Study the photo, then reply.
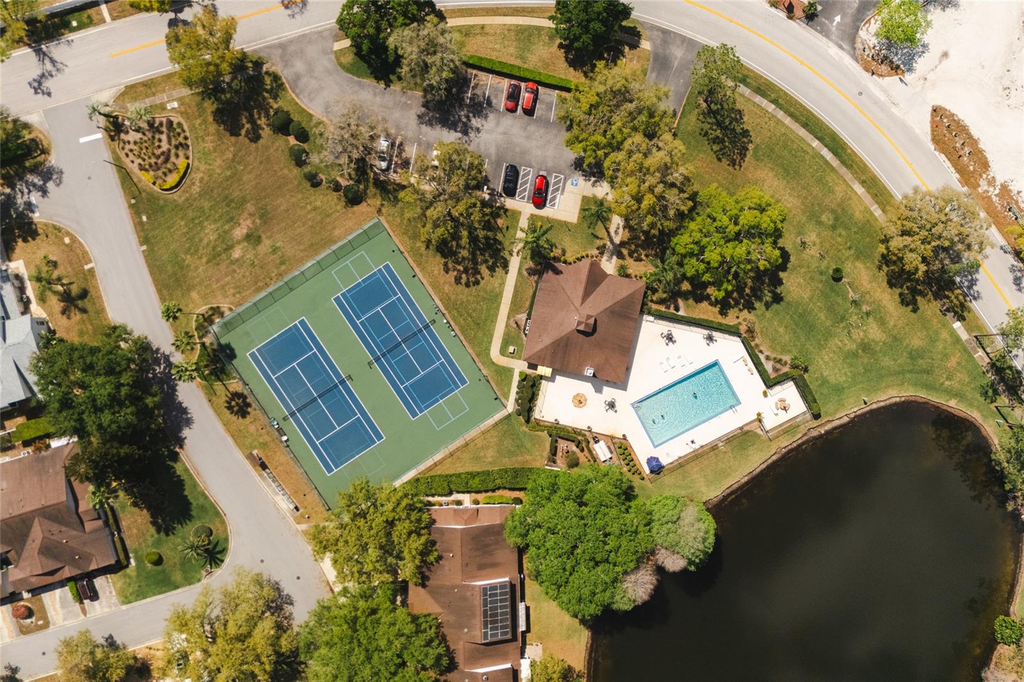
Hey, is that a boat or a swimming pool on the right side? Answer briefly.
swimming pool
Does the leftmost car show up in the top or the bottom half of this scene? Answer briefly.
bottom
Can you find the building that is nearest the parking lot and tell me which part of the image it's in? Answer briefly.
center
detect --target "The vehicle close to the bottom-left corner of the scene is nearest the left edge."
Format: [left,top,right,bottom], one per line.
[78,574,100,605]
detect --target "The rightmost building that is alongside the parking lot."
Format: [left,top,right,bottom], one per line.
[523,259,645,383]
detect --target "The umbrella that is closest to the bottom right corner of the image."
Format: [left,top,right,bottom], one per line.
[648,459,666,476]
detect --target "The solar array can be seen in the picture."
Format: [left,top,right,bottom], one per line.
[482,584,509,641]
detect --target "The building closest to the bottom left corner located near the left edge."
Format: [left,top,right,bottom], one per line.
[0,447,119,596]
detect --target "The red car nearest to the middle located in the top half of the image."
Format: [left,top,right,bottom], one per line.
[533,176,547,207]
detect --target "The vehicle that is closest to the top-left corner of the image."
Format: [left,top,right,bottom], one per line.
[376,139,391,169]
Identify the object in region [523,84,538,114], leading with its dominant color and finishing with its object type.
red car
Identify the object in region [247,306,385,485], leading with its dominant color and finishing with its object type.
blue tennis court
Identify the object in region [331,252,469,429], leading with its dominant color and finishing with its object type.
blue tennis court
